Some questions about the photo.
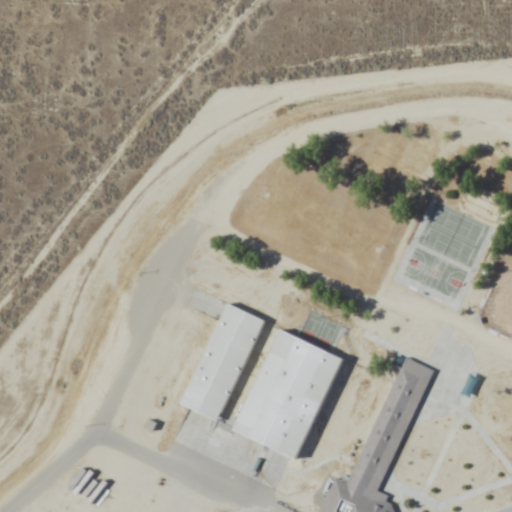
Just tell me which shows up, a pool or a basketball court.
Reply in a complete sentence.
Looking from above, you can make out a basketball court.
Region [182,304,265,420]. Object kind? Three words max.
building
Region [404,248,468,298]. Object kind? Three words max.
basketball court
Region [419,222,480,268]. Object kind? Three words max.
tennis court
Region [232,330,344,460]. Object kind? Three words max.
building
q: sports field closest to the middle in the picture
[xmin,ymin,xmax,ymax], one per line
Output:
[232,127,438,294]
